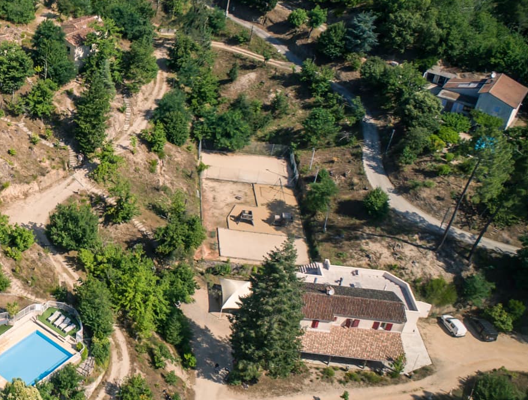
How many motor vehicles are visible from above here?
2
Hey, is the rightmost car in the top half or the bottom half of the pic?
bottom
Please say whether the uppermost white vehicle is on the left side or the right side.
right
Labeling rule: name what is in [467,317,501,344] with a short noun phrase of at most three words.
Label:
car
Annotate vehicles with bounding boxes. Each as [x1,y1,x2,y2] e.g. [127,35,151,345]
[442,313,472,339]
[467,317,501,344]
